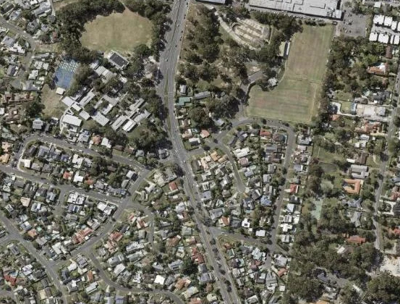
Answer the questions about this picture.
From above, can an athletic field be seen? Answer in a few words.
Yes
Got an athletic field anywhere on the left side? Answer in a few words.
No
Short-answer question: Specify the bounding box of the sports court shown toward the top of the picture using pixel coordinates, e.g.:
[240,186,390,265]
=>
[54,60,78,89]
